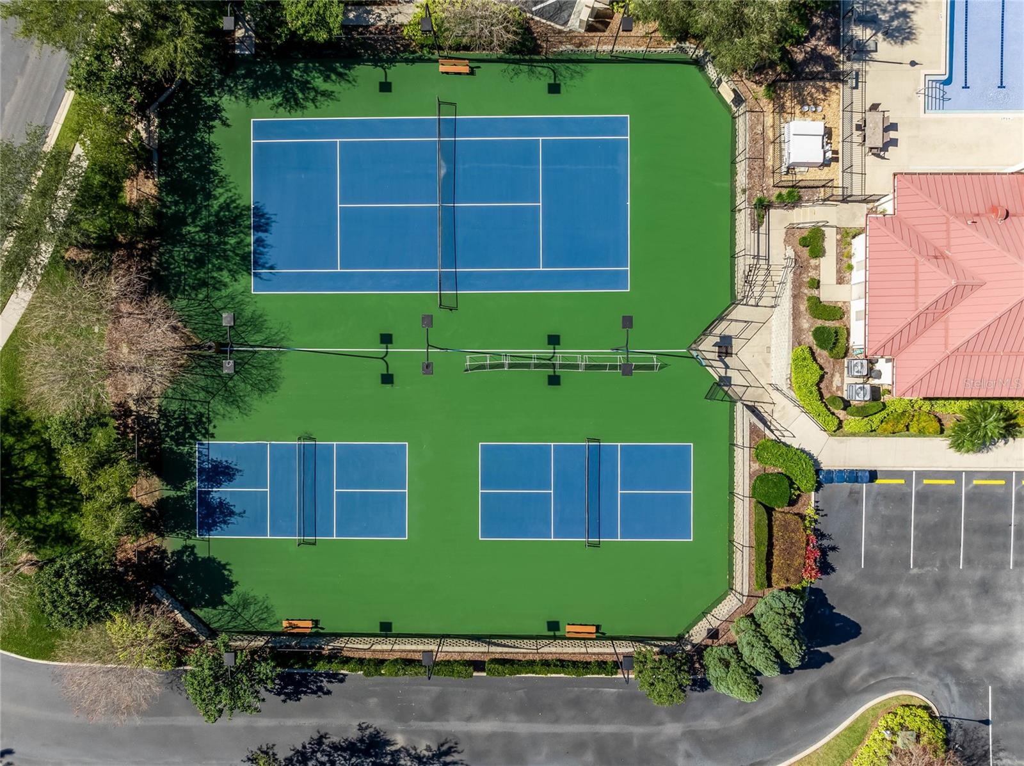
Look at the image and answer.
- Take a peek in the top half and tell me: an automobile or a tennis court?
tennis court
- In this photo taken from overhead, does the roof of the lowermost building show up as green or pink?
pink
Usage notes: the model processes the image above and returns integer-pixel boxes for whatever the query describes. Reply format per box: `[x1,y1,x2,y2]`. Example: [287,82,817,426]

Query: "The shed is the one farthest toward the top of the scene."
[777,121,828,184]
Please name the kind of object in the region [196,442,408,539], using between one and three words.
sports court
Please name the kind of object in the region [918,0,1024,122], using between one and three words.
swimming pool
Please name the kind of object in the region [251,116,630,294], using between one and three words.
tennis court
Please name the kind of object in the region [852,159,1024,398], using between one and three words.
building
